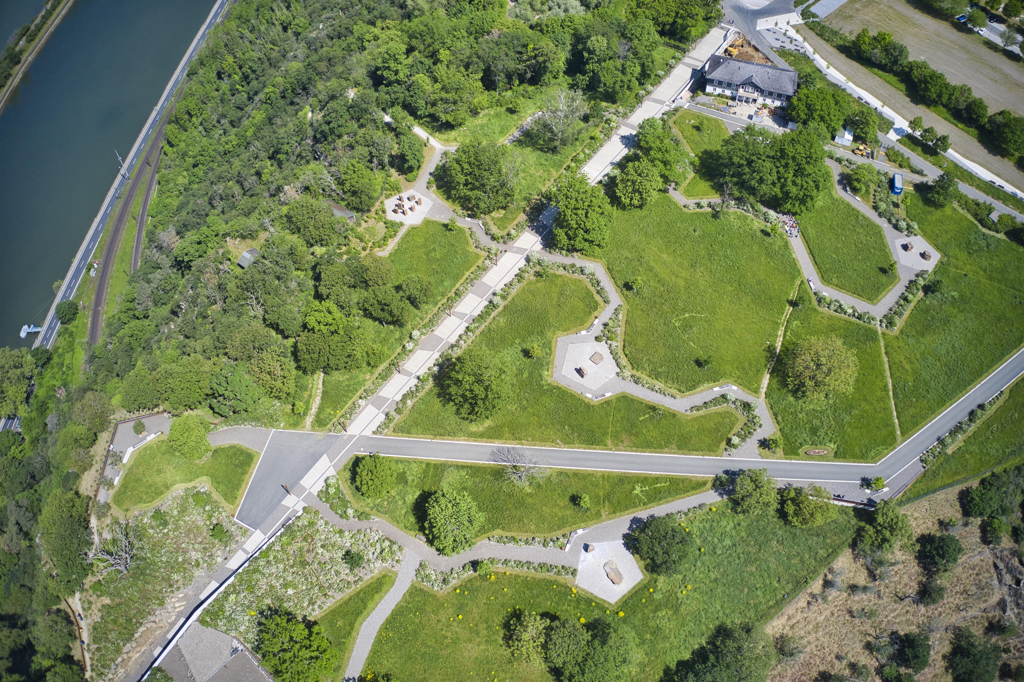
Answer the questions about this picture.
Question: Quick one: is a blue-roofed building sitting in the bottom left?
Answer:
No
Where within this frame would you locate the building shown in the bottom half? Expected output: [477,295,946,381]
[160,621,277,682]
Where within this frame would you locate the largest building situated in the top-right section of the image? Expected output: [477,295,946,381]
[706,54,800,107]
